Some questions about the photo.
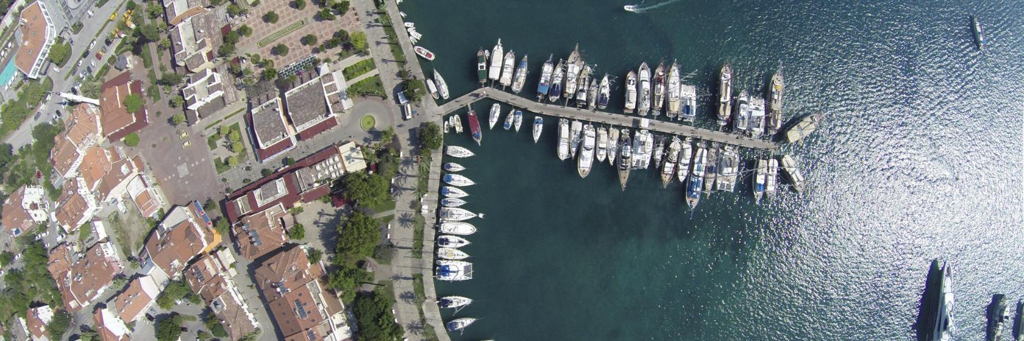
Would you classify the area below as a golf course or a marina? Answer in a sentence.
The area seen from above is a marina.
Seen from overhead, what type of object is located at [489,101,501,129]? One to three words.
boat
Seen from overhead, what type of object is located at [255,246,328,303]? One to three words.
house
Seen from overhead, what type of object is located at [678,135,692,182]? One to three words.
boat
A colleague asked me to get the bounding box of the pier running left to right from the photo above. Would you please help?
[437,87,778,151]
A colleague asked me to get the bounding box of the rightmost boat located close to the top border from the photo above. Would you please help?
[970,14,988,53]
